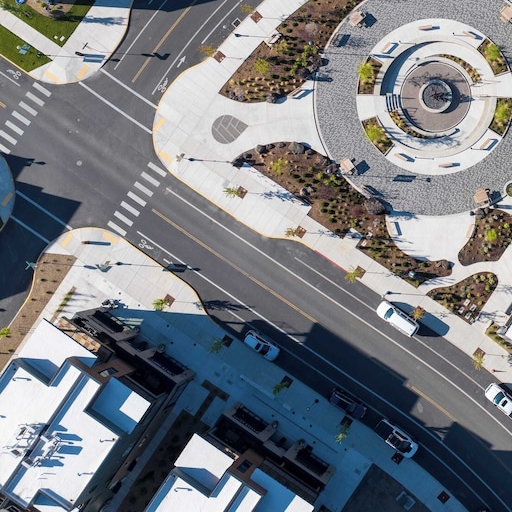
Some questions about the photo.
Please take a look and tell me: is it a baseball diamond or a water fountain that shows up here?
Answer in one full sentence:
Of the two, only a water fountain appears.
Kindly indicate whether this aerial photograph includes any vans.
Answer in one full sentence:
Yes, there is a van in the image.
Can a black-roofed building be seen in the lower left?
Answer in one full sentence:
No, the scene shows no black-roofed building in the lower left.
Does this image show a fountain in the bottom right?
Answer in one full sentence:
No, the scene shows no fountain in the bottom right.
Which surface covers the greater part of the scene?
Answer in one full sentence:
Most of the picture is covered by paved ground.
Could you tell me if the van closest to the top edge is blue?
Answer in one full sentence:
No, the van closest to the top edge is white.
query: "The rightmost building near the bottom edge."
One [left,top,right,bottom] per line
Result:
[141,401,335,512]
